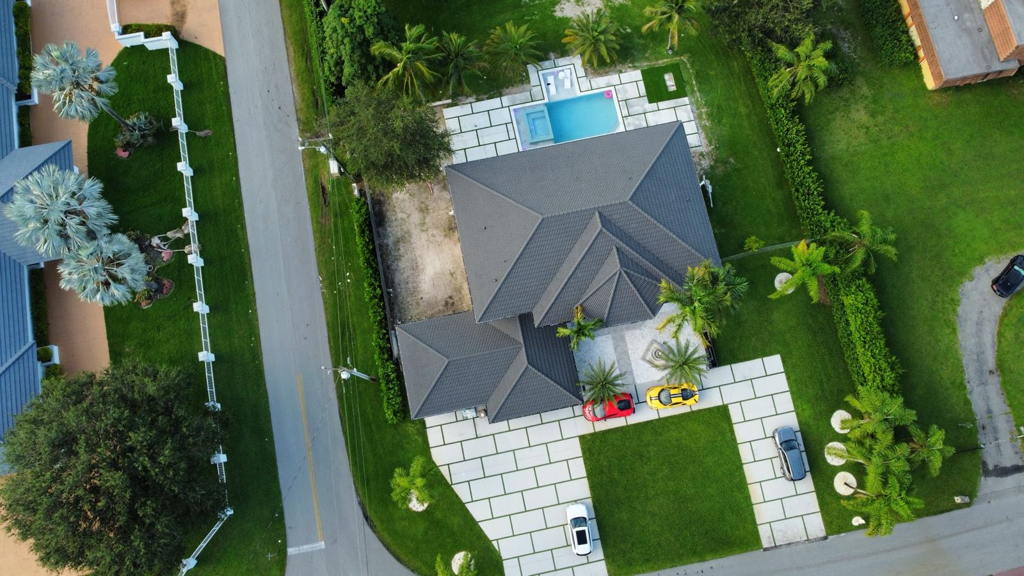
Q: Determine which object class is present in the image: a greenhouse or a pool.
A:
pool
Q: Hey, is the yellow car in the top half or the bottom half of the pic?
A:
bottom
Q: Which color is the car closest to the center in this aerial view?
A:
red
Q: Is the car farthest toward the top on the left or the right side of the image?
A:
right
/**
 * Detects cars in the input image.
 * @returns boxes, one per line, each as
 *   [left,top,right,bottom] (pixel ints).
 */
[583,395,635,426]
[646,382,699,411]
[771,425,807,483]
[566,501,593,558]
[988,251,1024,298]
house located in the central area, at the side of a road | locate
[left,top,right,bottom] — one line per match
[394,119,719,425]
